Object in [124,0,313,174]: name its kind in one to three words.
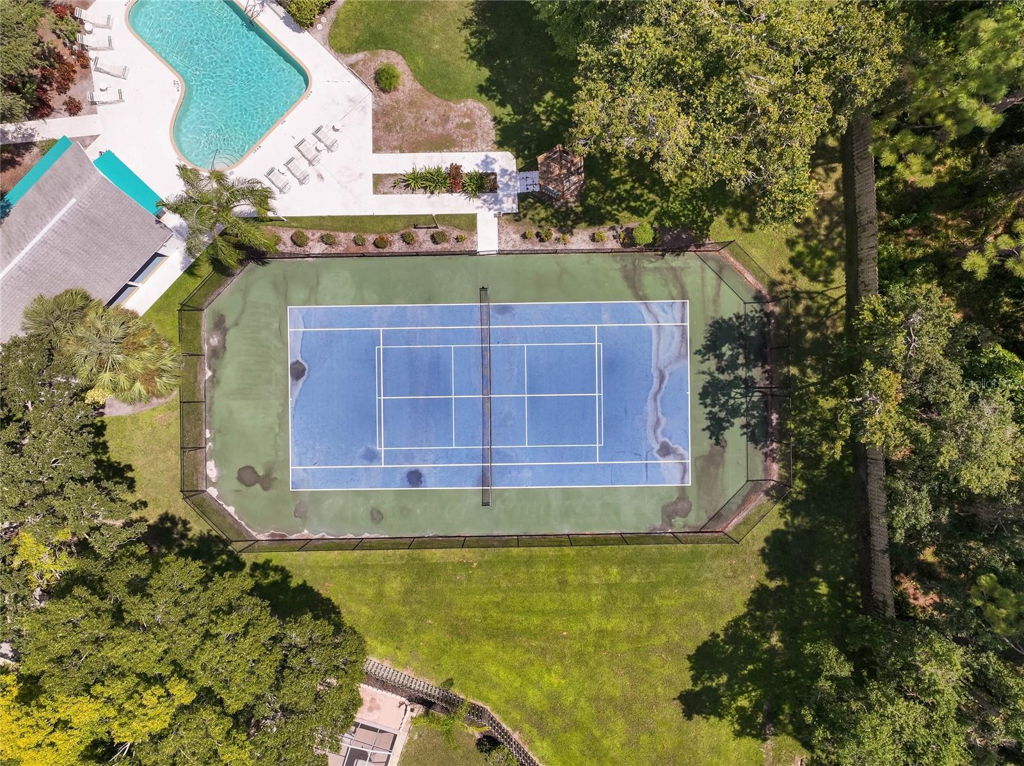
swimming pool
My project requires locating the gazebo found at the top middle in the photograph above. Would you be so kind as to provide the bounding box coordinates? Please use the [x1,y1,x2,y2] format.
[536,145,585,205]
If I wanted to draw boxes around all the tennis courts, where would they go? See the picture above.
[205,251,771,540]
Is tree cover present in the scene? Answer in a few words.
Yes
